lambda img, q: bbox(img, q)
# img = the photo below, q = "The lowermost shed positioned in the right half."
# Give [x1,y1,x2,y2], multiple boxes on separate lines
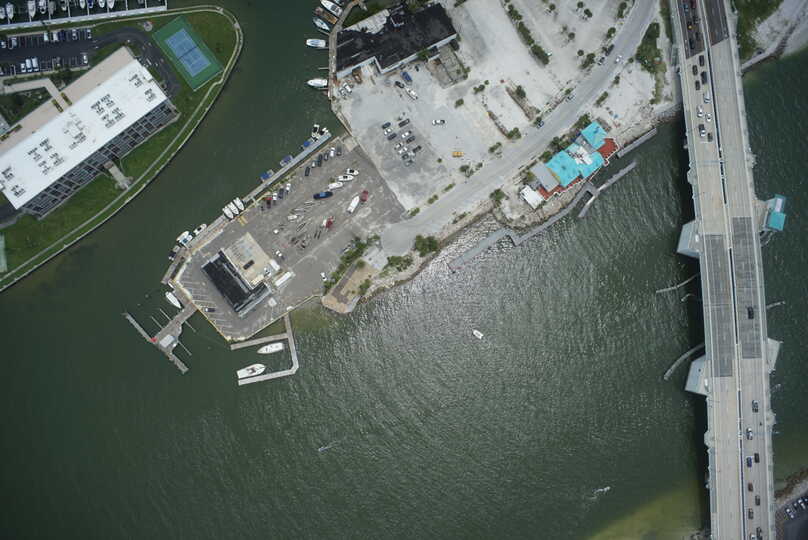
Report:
[518,186,544,210]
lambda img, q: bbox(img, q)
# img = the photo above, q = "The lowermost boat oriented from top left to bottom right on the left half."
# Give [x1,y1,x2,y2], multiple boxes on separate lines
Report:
[164,291,181,307]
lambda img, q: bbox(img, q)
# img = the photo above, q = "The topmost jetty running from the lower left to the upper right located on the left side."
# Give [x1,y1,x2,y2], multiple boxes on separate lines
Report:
[240,133,331,206]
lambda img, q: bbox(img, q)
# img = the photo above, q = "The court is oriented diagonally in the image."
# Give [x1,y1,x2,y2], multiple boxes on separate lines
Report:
[150,13,223,90]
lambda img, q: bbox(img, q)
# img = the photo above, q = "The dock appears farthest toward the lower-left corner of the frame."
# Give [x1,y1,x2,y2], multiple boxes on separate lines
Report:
[123,300,198,373]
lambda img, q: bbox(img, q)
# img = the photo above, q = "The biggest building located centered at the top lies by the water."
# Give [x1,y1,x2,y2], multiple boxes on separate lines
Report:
[335,4,457,77]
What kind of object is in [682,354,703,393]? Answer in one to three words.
pier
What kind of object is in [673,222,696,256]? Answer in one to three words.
pier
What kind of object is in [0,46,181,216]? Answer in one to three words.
building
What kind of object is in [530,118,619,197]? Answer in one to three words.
building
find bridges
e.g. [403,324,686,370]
[670,0,787,540]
